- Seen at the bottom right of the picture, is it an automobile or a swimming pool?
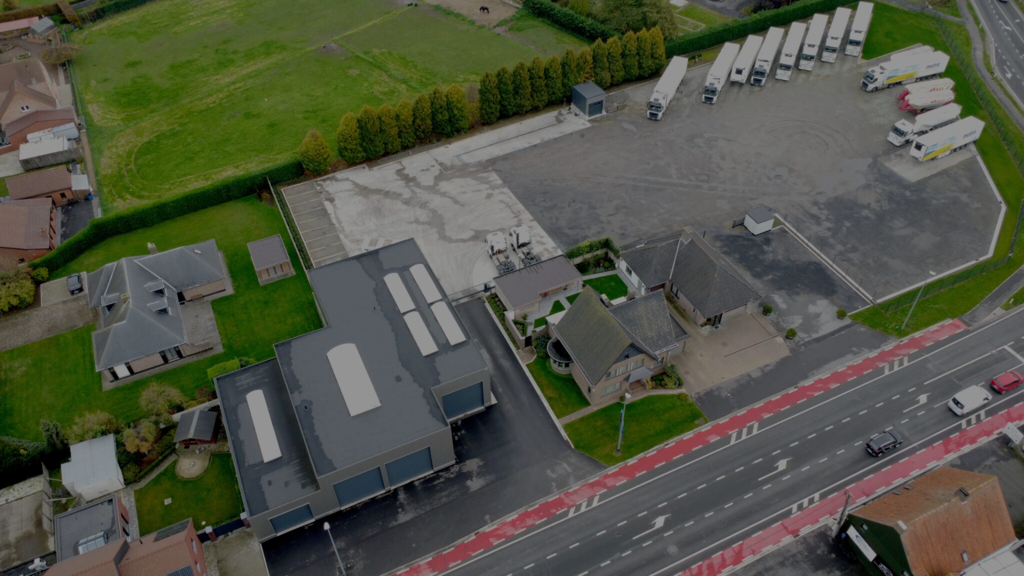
automobile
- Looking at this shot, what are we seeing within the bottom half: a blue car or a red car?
red car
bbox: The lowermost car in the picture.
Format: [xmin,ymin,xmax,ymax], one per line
[866,428,907,456]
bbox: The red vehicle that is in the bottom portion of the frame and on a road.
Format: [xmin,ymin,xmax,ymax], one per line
[991,368,1024,393]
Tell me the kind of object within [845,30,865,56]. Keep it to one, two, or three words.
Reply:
vehicle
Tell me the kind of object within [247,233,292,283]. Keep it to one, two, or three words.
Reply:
house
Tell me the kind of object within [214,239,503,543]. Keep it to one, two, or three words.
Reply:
building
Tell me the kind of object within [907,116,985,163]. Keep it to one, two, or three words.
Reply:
trailer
